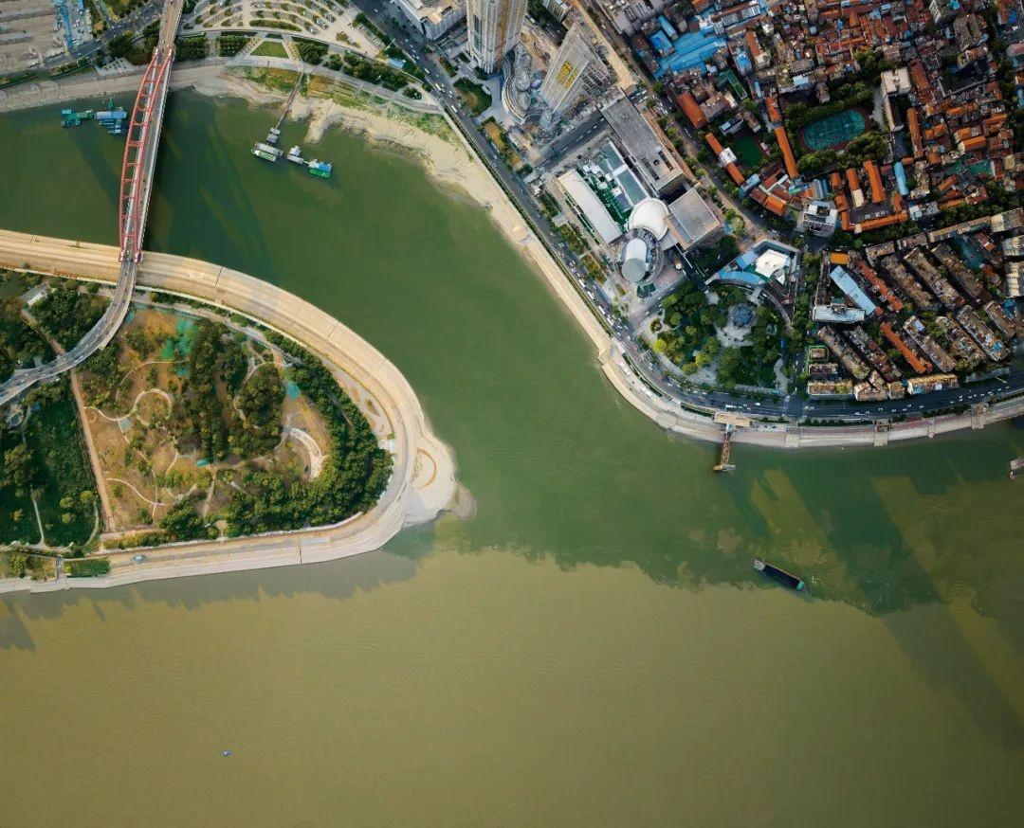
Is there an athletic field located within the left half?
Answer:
No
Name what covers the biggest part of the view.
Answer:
water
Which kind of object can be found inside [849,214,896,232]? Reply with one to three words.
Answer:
house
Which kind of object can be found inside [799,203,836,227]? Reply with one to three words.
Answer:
building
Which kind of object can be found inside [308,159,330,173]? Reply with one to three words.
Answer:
boat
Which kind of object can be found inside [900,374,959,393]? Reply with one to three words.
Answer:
building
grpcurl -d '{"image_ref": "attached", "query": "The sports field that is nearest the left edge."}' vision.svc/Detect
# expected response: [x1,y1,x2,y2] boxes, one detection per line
[735,132,764,168]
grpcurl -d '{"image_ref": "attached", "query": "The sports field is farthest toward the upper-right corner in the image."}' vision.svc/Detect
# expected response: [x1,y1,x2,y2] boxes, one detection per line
[803,109,866,150]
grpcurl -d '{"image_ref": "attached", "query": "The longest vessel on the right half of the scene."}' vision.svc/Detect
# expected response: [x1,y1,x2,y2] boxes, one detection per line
[754,559,802,590]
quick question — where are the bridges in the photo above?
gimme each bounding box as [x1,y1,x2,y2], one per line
[0,0,185,407]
